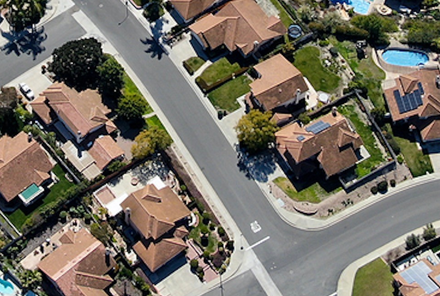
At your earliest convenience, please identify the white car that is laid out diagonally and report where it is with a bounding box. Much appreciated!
[19,83,35,100]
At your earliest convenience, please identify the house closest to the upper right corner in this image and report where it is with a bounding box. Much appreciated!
[386,69,440,144]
